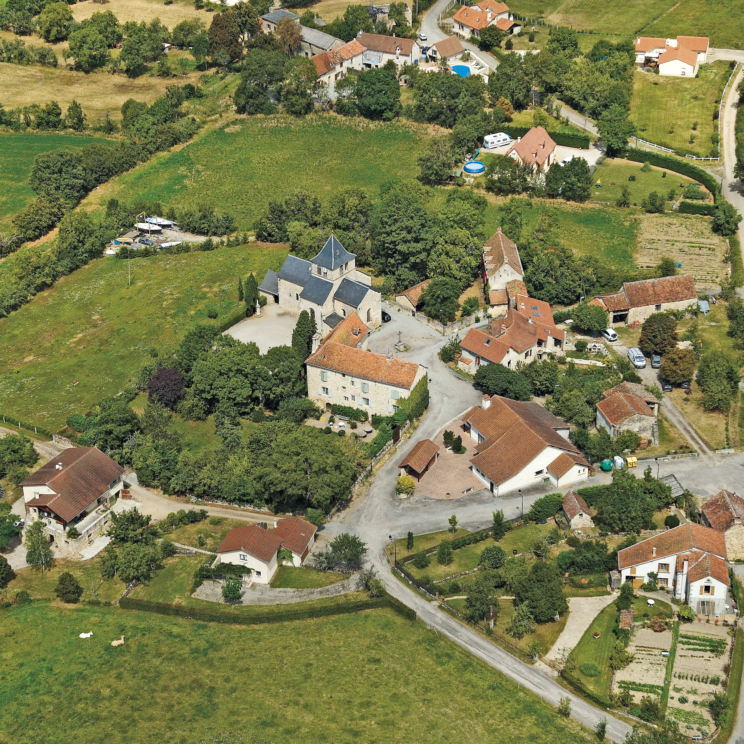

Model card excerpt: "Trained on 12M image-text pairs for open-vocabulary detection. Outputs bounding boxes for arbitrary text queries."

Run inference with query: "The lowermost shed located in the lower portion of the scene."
[616,606,638,628]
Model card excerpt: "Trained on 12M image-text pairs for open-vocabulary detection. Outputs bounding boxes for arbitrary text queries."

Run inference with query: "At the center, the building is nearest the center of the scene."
[305,310,428,425]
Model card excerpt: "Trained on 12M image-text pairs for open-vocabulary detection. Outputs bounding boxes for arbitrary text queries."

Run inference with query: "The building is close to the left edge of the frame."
[11,445,138,557]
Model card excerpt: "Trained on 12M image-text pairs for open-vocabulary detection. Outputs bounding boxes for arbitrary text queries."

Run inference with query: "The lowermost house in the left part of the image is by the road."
[215,514,318,584]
